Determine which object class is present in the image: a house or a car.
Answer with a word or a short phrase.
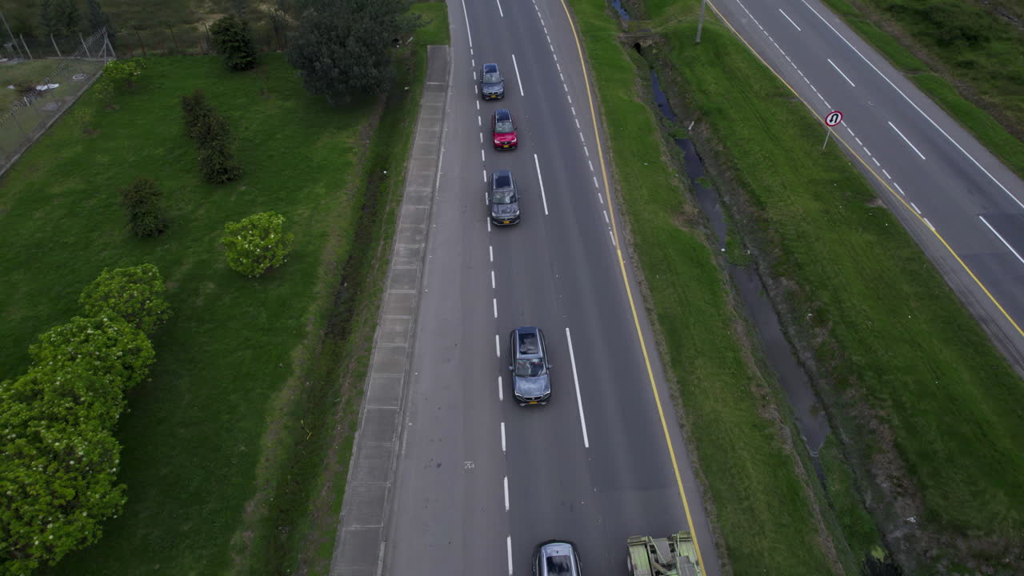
car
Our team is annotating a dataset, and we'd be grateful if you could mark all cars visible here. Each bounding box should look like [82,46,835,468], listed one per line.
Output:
[489,107,519,147]
[533,540,586,576]
[507,325,555,403]
[487,170,523,223]
[479,62,506,97]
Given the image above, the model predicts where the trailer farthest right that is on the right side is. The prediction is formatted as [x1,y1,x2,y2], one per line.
[627,531,708,576]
